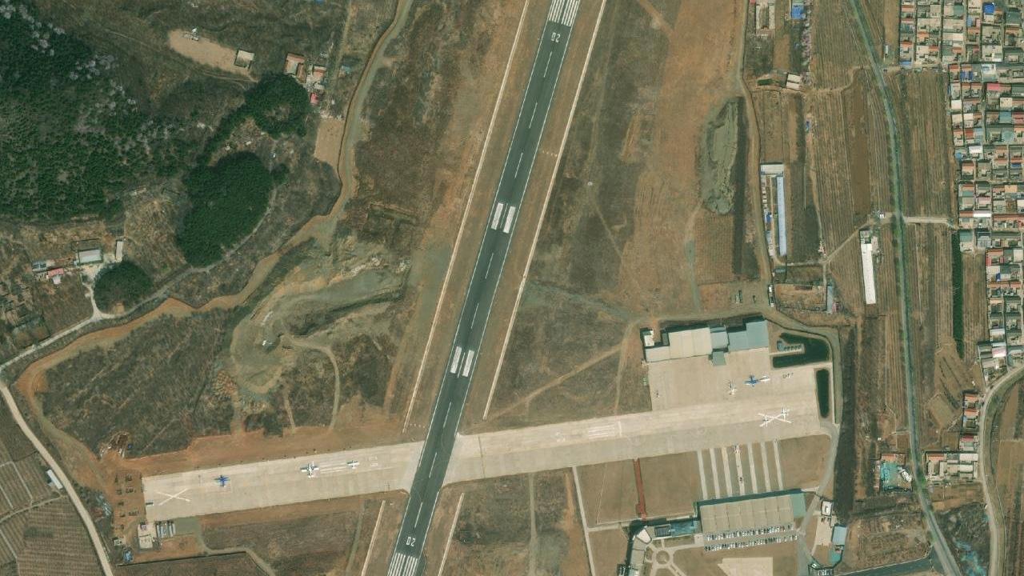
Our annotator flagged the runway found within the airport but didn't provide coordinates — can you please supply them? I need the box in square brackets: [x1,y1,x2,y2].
[387,0,581,576]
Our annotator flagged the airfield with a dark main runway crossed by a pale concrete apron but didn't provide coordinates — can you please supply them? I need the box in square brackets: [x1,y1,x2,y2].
[143,0,832,576]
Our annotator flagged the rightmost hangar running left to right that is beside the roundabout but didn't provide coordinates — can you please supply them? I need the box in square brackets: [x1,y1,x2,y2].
[700,495,795,535]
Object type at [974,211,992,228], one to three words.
house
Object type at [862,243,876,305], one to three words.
greenhouse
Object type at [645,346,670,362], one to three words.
hangar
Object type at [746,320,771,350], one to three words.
hangar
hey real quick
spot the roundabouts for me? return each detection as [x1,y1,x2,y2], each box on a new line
[644,539,704,576]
